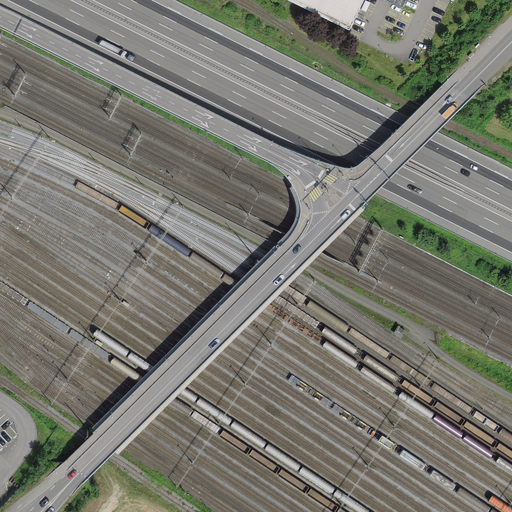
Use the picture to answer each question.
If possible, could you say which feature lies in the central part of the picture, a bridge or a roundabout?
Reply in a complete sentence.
There is a bridge in the central part of the picture.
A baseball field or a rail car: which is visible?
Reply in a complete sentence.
There is a rail car in the scene.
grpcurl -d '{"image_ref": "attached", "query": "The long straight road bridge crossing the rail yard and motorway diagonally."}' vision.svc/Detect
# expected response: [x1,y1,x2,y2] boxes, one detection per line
[76,74,472,471]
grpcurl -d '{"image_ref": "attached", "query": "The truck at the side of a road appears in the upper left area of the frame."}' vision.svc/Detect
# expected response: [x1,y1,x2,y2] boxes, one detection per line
[100,38,135,61]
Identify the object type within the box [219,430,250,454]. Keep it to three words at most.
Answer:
rail car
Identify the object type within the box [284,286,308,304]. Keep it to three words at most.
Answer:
rail car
